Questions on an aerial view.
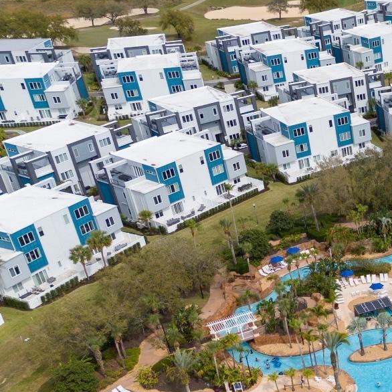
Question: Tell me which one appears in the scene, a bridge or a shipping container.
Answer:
bridge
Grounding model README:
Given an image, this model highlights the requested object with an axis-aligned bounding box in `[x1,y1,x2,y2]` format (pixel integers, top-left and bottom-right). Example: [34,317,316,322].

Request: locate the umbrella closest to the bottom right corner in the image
[368,283,388,300]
